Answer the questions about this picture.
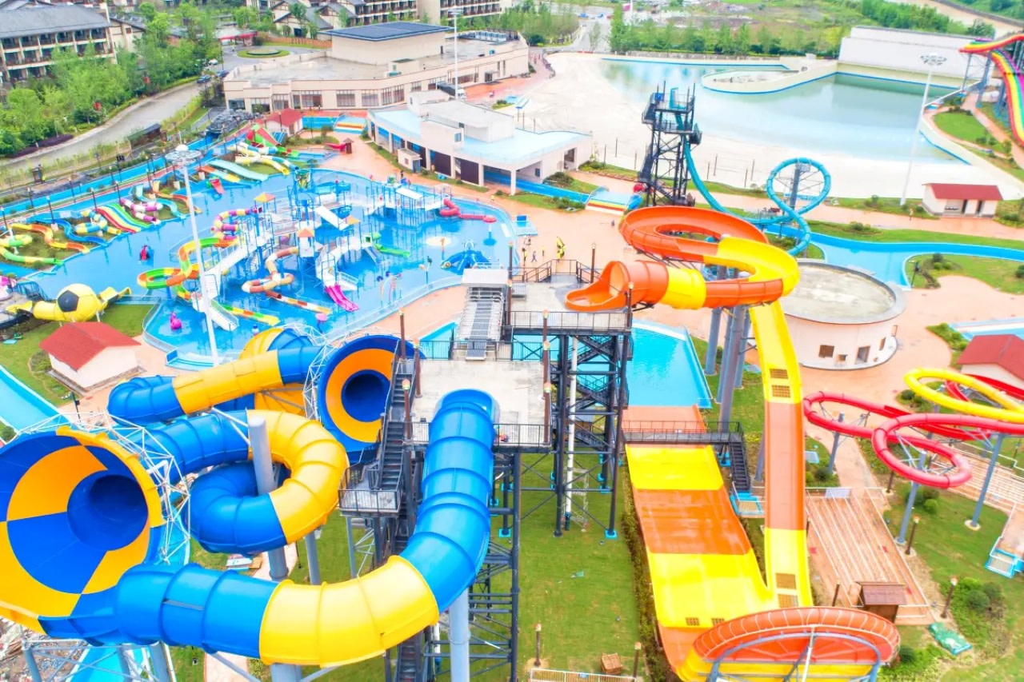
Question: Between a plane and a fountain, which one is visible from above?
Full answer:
I can see a fountain in this picture.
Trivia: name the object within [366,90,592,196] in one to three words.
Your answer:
house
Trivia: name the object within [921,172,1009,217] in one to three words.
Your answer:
shed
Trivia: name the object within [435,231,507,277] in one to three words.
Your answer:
fountain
